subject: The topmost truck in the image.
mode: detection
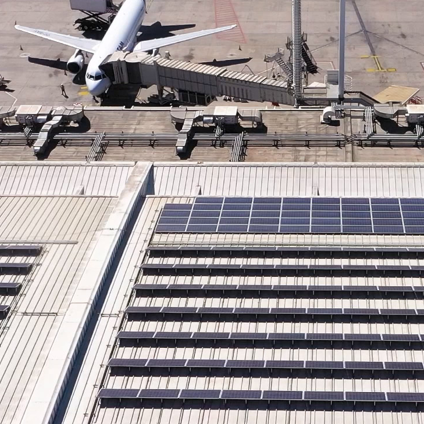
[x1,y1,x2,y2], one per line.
[68,0,123,35]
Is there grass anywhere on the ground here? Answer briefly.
No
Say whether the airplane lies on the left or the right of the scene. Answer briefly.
left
